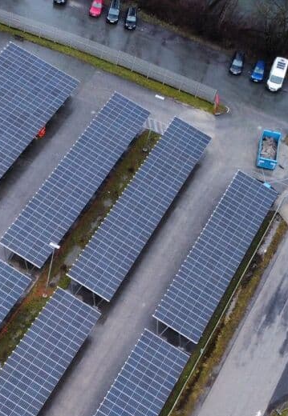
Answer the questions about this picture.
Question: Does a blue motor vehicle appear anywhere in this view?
Yes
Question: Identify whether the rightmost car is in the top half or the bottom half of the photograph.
top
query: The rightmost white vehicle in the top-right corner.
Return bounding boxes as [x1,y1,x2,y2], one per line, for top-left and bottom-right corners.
[267,58,288,91]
